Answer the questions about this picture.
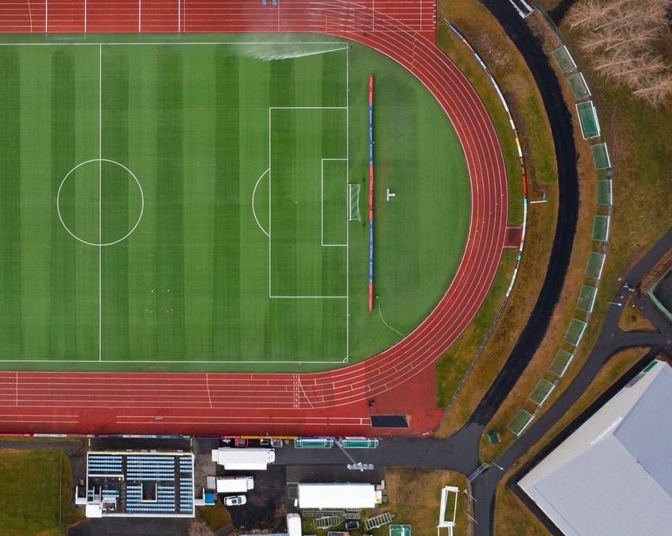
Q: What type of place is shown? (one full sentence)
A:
It's a sports ground.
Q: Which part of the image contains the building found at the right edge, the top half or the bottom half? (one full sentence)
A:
You can find the building found at the right edge in the bottom half.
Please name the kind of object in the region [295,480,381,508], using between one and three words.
tent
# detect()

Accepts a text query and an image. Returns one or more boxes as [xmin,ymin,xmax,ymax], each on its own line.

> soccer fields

[0,31,472,374]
